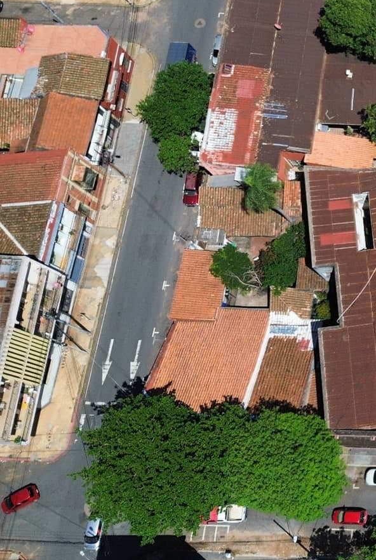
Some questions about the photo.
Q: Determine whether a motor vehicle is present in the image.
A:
Yes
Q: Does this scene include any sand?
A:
No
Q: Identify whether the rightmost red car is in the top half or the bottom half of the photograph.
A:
bottom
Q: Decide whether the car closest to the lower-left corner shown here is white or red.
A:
red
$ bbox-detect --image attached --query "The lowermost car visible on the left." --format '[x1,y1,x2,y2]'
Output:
[79,514,108,554]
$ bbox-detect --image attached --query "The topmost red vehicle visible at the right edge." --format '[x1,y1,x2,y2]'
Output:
[331,506,368,528]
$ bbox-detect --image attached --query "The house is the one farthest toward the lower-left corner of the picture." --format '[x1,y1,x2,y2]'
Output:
[0,256,80,433]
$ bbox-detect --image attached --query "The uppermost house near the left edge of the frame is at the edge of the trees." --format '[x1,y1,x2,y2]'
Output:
[0,17,130,113]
